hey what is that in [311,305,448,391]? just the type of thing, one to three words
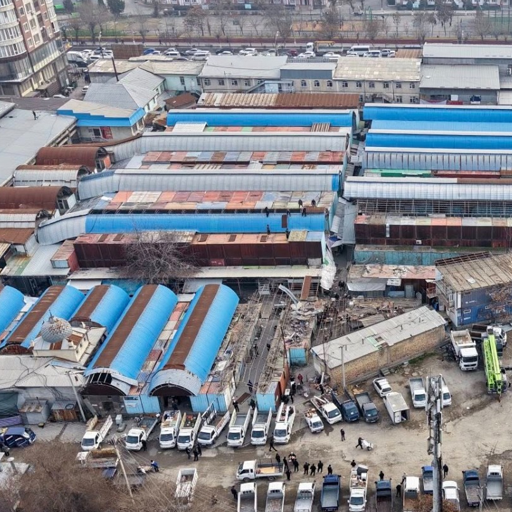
building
